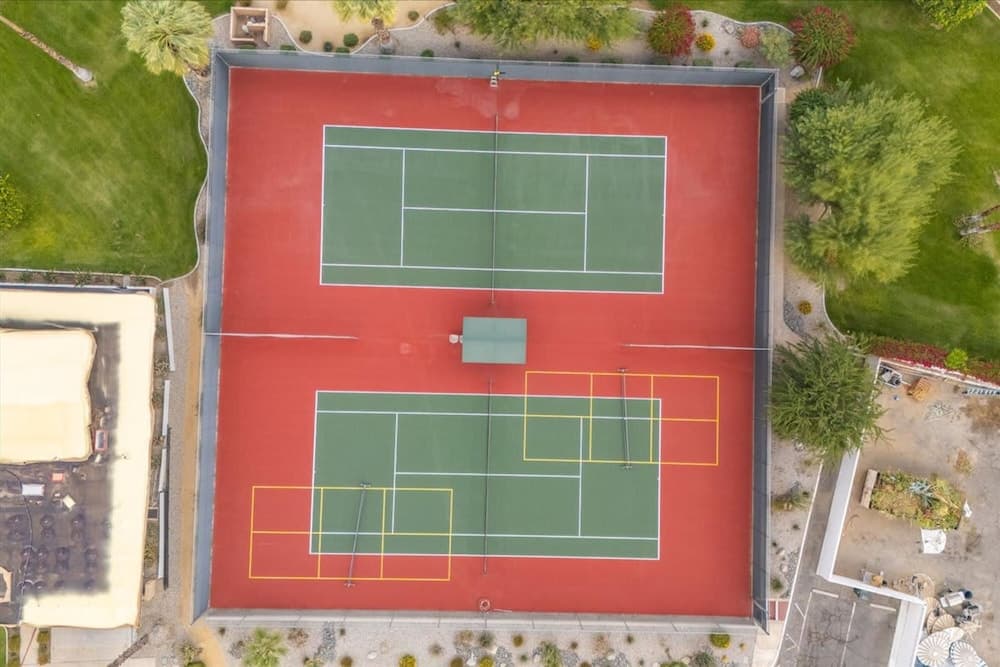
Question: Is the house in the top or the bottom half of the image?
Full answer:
It is in the bottom half that the house appears.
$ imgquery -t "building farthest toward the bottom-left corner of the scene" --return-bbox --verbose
[0,290,159,632]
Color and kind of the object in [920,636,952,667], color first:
white umbrella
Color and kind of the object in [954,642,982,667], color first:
white umbrella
